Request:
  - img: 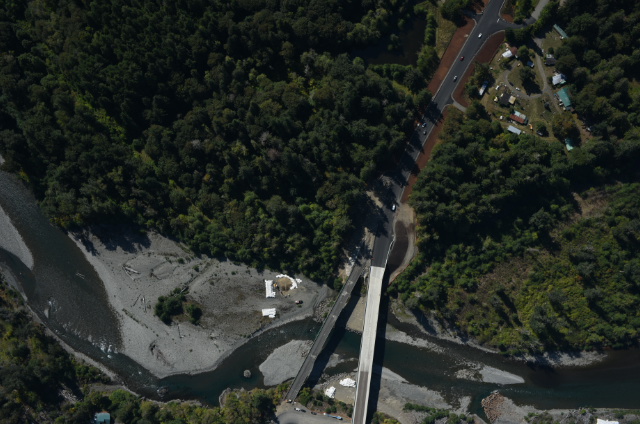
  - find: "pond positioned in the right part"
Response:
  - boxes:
[350,13,427,68]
